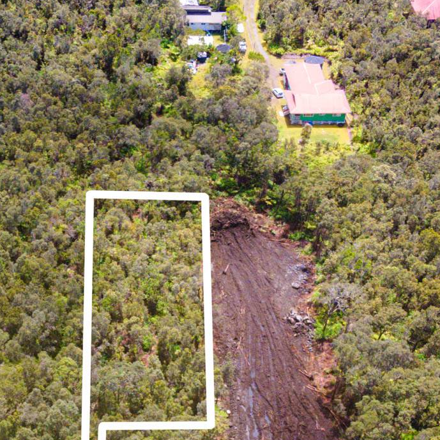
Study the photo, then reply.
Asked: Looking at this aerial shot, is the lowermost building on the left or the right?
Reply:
right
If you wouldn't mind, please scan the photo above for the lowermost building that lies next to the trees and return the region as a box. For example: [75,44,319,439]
[282,58,352,128]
